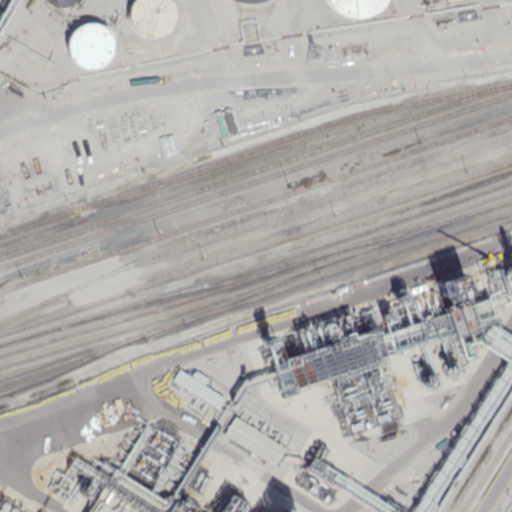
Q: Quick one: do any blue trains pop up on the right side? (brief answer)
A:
No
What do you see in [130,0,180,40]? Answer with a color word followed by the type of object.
white storage tank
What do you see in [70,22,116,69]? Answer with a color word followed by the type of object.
white storage tank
